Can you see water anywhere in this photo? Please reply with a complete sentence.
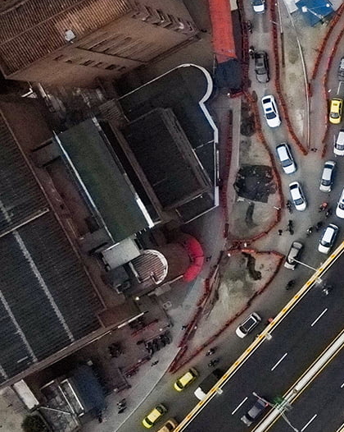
No, there is no water in the image.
